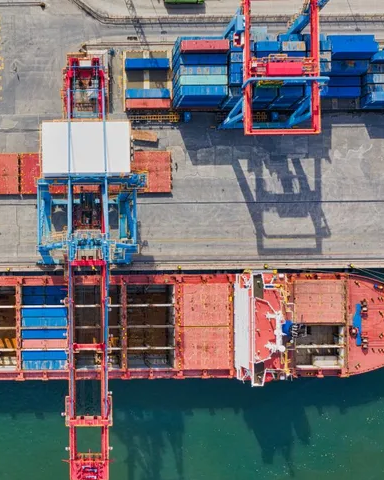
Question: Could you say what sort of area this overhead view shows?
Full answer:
This image shows a port.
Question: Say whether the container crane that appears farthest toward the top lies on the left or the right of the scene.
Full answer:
The container crane that appears farthest toward the top sits on the right side.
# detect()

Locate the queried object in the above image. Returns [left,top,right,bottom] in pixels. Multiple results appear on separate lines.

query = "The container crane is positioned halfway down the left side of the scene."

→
[32,50,152,480]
